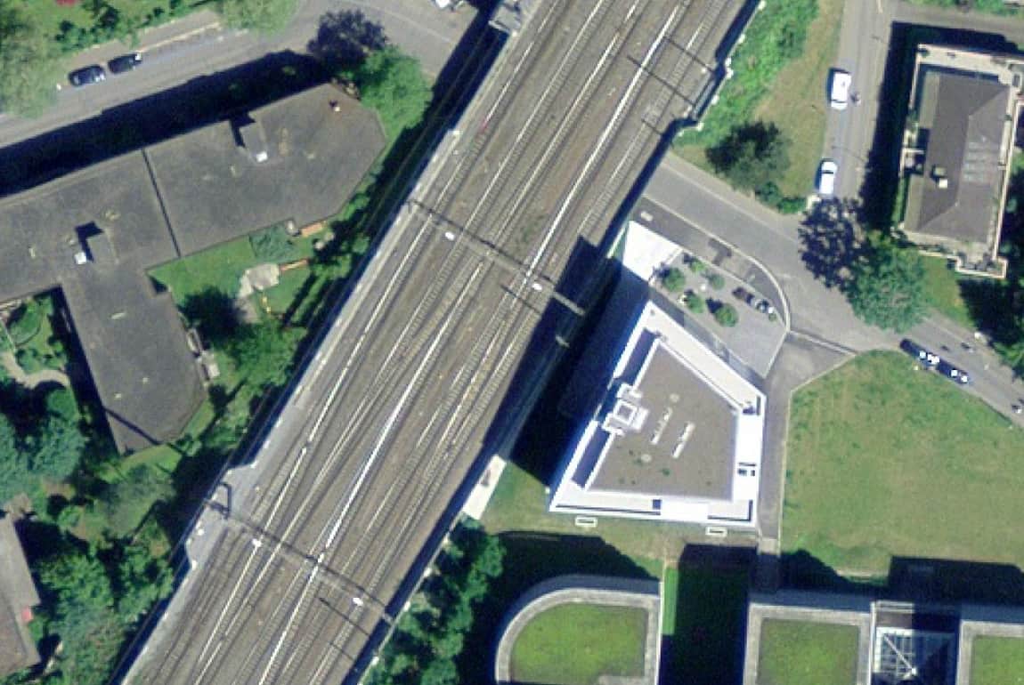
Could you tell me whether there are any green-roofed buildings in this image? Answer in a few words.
Yes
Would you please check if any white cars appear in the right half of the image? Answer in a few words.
Yes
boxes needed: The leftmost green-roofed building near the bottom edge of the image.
[488,565,661,685]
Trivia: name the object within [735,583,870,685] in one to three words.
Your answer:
building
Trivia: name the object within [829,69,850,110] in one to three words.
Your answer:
vehicle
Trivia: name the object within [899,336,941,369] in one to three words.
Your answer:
car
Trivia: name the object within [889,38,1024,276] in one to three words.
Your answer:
house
